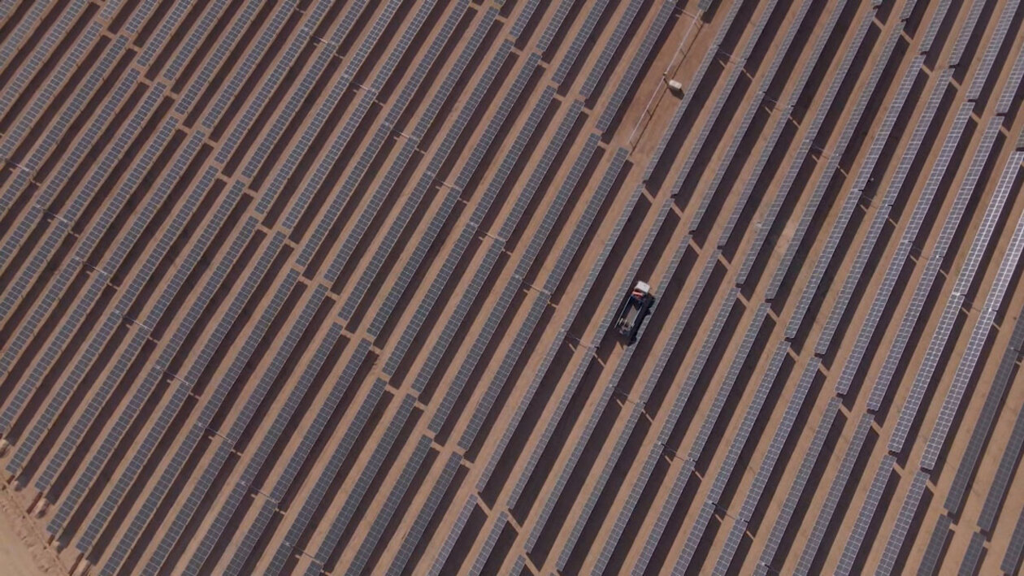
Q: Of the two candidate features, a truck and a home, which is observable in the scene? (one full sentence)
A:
I can see a truck in this picture.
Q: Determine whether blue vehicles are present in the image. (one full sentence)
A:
No, the scene contains no blue vehicle.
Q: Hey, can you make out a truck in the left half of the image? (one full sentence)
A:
No, I can find no truck in the left half of the image.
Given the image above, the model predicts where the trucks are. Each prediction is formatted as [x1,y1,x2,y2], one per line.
[611,282,653,342]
